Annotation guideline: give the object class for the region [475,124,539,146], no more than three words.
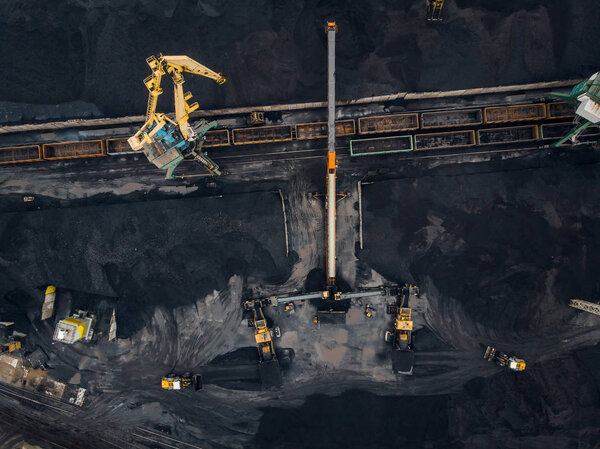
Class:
rail car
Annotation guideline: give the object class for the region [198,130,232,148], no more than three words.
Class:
rail car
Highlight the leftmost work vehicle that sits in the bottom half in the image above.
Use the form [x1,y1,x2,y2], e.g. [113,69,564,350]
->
[161,375,204,393]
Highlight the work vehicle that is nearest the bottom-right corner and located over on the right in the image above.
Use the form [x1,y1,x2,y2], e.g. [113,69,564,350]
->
[485,348,529,375]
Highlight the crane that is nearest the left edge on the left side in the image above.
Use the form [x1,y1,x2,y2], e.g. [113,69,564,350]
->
[127,52,226,179]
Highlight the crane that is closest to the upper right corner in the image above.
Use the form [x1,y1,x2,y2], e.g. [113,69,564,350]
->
[545,71,600,146]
